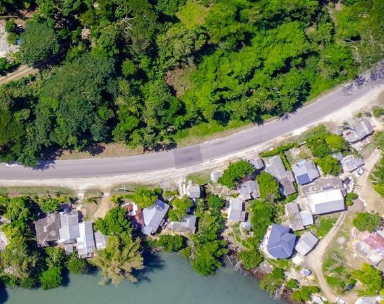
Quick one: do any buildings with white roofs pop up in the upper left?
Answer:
No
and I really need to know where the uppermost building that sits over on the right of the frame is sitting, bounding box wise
[341,119,374,143]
